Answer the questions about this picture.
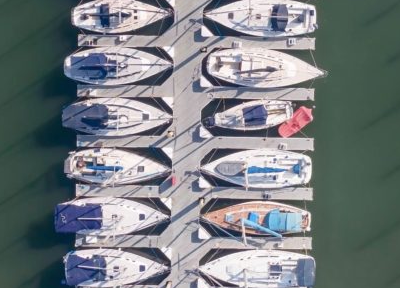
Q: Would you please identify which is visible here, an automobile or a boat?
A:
boat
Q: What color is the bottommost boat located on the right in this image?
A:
white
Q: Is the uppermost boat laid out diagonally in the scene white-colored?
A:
No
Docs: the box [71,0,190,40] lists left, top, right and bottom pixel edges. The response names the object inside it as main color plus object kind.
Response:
white boat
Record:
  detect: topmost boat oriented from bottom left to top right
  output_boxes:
[278,100,318,139]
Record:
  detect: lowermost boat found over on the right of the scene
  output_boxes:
[182,245,317,288]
